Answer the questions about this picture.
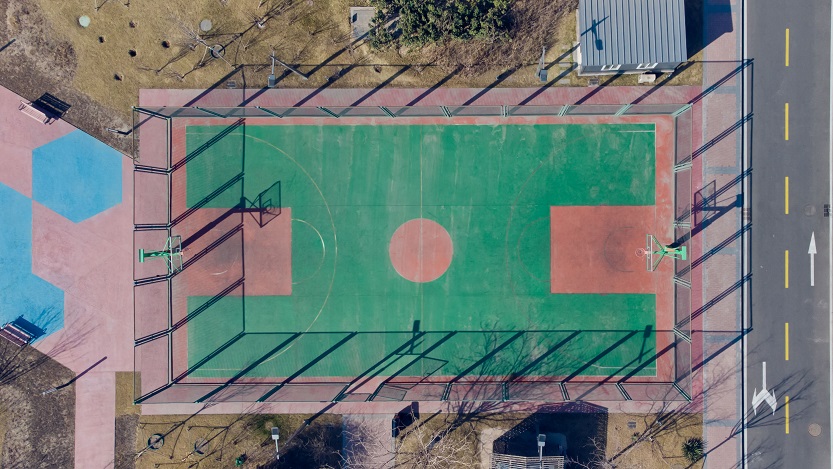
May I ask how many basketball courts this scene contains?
1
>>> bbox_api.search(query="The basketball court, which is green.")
[171,116,674,384]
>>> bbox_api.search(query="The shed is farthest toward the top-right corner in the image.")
[570,0,688,80]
